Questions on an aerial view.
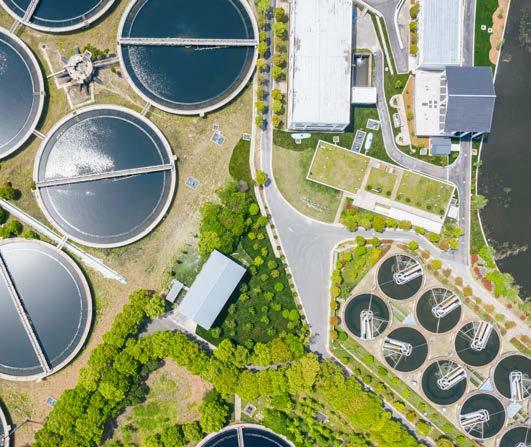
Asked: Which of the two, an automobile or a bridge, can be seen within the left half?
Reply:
bridge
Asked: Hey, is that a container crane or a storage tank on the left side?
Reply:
storage tank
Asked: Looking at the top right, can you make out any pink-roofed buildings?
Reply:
No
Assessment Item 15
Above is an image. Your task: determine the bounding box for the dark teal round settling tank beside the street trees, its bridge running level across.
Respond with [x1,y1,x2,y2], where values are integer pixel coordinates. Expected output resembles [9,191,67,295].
[116,0,259,118]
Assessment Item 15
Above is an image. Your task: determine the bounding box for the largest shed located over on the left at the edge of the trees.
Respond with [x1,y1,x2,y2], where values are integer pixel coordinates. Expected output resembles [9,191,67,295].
[179,250,246,329]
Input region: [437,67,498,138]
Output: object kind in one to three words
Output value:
building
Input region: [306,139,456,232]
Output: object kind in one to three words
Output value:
building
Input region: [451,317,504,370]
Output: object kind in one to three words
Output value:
storage tank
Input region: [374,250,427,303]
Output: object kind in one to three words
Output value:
storage tank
